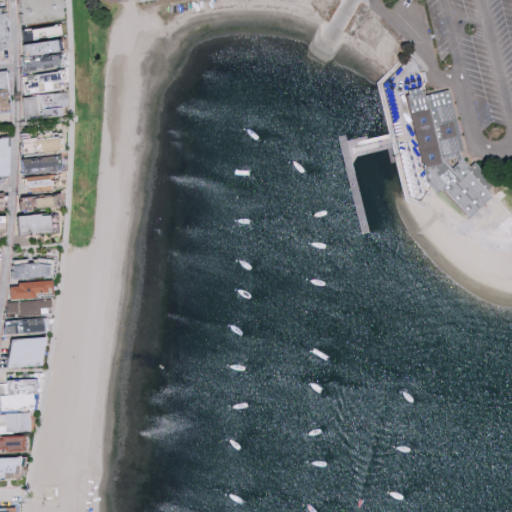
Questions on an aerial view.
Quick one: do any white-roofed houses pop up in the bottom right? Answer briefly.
No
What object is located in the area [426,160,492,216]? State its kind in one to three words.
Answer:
building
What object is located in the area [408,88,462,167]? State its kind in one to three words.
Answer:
building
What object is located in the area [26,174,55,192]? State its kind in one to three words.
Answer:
house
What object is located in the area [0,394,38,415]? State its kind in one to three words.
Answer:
house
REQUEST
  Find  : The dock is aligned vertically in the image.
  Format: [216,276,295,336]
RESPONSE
[340,136,370,234]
